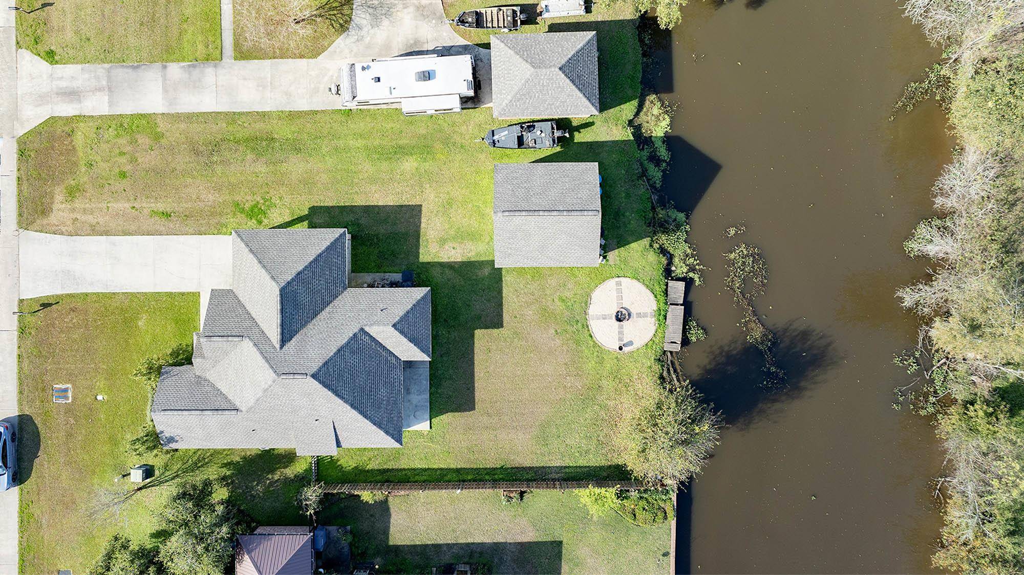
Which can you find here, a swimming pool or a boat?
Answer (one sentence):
I can see a boat in this picture.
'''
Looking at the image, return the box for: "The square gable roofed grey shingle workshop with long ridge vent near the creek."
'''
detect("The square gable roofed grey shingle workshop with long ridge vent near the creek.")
[493,161,603,268]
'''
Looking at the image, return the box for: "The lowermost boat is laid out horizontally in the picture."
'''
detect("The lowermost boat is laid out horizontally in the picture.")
[485,120,569,149]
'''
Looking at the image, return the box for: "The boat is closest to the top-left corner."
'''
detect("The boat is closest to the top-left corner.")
[456,6,528,30]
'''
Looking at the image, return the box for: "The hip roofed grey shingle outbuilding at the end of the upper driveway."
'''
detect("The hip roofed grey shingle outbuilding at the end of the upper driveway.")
[489,31,600,119]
